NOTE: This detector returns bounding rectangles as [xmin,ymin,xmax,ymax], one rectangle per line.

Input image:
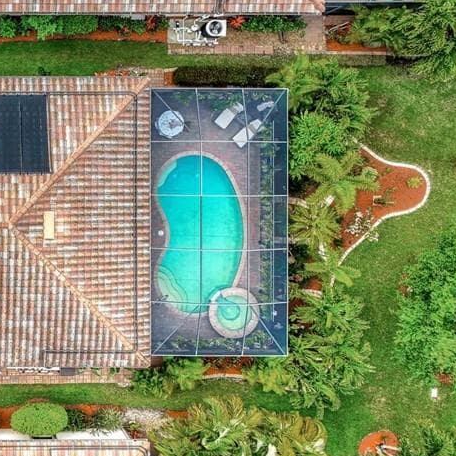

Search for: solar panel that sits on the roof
[0,92,53,175]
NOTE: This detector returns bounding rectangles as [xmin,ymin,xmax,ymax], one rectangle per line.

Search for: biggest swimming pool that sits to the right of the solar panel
[152,149,250,319]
